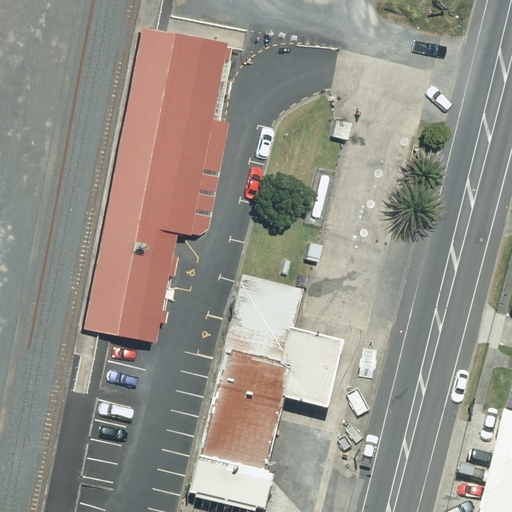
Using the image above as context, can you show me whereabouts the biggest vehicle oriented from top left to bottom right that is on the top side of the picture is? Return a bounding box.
[424,84,452,114]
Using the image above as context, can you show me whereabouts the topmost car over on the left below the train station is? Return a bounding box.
[110,348,138,363]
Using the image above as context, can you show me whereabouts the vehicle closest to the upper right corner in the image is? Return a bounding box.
[410,40,448,58]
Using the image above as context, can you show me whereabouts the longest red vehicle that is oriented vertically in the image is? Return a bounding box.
[246,166,263,200]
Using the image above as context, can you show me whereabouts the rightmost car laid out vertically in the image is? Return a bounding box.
[480,408,497,441]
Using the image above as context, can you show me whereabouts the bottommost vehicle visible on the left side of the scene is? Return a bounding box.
[98,425,128,442]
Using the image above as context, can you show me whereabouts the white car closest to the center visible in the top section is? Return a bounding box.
[256,126,274,160]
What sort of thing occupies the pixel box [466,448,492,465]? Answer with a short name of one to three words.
car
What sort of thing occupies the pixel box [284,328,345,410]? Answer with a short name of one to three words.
building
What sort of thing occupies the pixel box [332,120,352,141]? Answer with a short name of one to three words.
shed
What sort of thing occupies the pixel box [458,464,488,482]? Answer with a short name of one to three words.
vehicle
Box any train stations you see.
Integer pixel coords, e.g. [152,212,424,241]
[82,28,232,344]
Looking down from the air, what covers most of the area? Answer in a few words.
paved ground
